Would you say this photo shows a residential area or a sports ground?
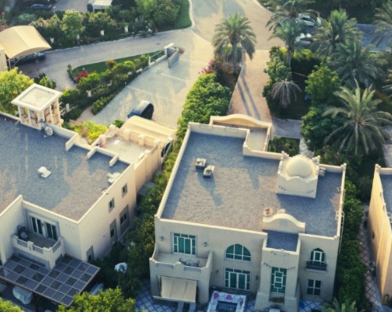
residential area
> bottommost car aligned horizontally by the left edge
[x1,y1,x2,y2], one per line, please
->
[16,49,53,67]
